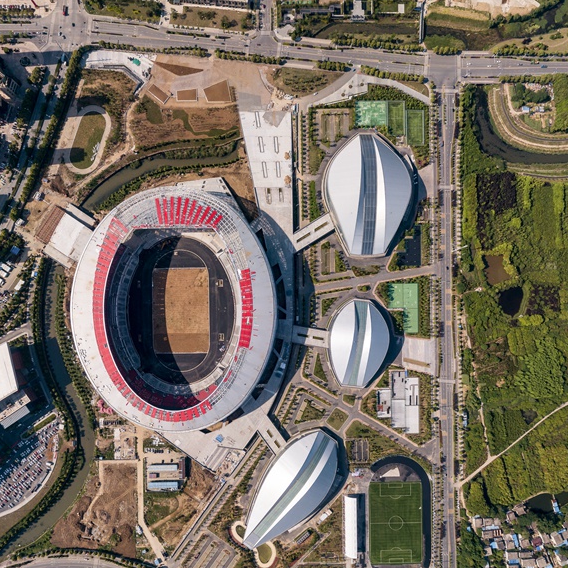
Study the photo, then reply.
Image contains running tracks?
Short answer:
Yes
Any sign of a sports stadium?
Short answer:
Yes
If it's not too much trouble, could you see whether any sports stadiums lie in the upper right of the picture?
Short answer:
No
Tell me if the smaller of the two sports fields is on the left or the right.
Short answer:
left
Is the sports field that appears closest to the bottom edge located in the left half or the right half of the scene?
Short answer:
right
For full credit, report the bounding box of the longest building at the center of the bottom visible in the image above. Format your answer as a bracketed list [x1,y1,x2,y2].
[240,426,338,548]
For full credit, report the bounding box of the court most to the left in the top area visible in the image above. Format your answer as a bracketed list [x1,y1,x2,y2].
[355,99,388,127]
